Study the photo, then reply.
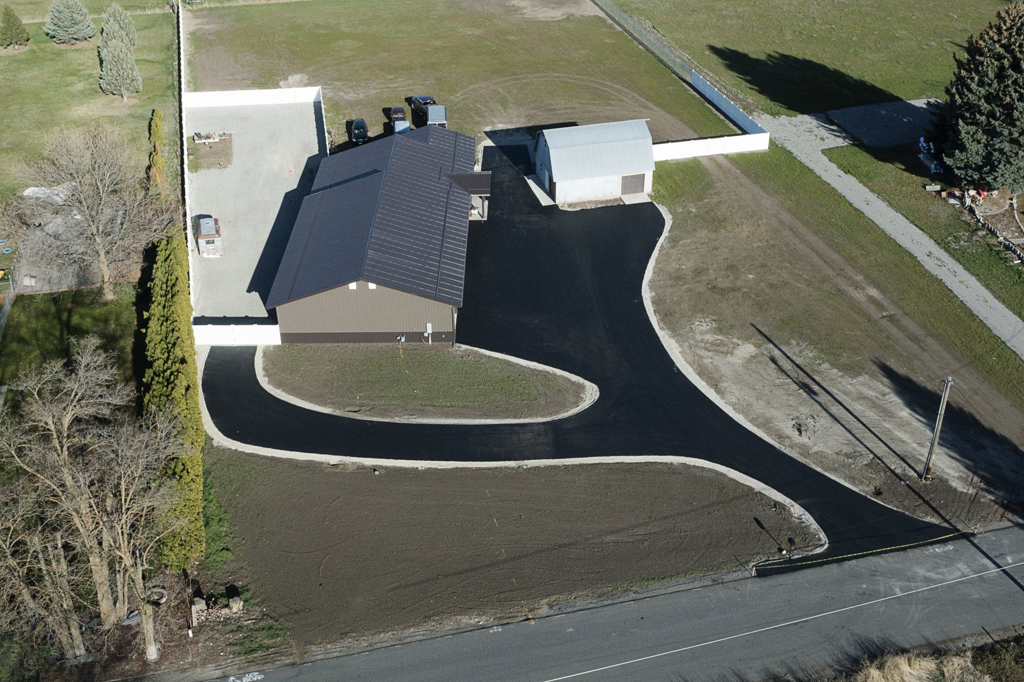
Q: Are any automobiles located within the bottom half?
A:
No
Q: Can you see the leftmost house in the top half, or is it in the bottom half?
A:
top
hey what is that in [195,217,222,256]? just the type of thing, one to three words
trailer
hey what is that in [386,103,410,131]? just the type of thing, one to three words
car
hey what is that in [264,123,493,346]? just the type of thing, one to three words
house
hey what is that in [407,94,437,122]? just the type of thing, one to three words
truck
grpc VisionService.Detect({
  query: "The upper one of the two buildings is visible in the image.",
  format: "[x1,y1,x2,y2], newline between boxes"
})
[525,117,657,205]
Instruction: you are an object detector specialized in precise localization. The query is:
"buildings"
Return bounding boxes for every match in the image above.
[264,123,493,346]
[525,117,657,205]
